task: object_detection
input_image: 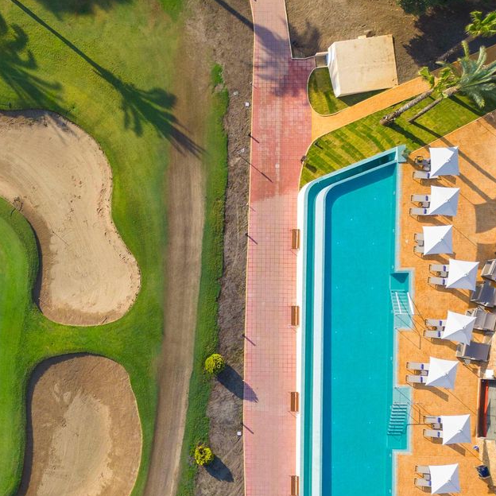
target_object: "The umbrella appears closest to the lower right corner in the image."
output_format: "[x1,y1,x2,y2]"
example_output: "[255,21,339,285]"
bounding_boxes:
[429,464,459,494]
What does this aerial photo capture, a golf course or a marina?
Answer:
golf course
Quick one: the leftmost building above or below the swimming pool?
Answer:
above it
